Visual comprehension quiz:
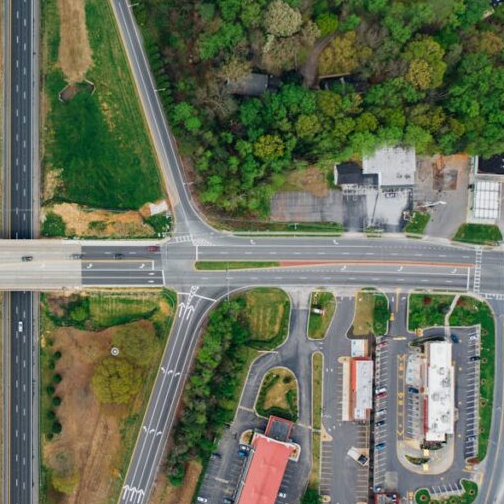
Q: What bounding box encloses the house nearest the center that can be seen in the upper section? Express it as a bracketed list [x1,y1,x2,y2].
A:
[334,164,380,191]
